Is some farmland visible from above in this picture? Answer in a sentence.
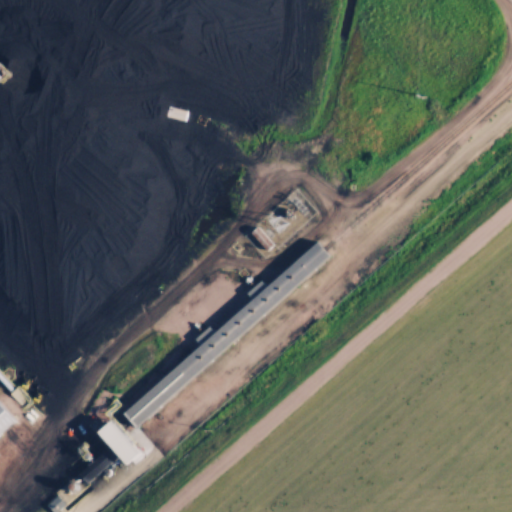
Yes, there is farmland in the image.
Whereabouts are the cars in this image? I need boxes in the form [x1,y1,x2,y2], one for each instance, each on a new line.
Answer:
[78,426,86,434]
[100,356,108,364]
[472,96,480,104]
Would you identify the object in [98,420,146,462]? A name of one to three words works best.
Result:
building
